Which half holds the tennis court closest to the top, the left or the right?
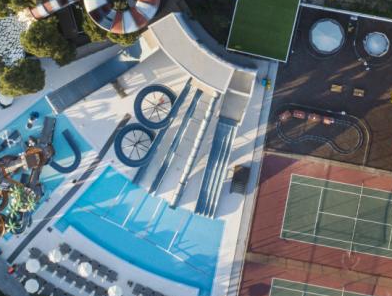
right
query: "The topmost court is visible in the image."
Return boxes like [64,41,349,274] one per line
[247,154,392,276]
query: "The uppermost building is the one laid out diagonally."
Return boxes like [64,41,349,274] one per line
[148,12,236,94]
